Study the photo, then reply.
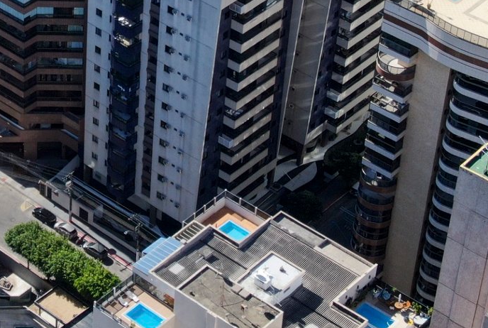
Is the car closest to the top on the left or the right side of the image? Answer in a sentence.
You can find the car closest to the top on the left side of the picture.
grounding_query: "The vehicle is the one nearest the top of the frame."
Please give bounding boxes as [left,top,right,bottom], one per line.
[31,203,59,223]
